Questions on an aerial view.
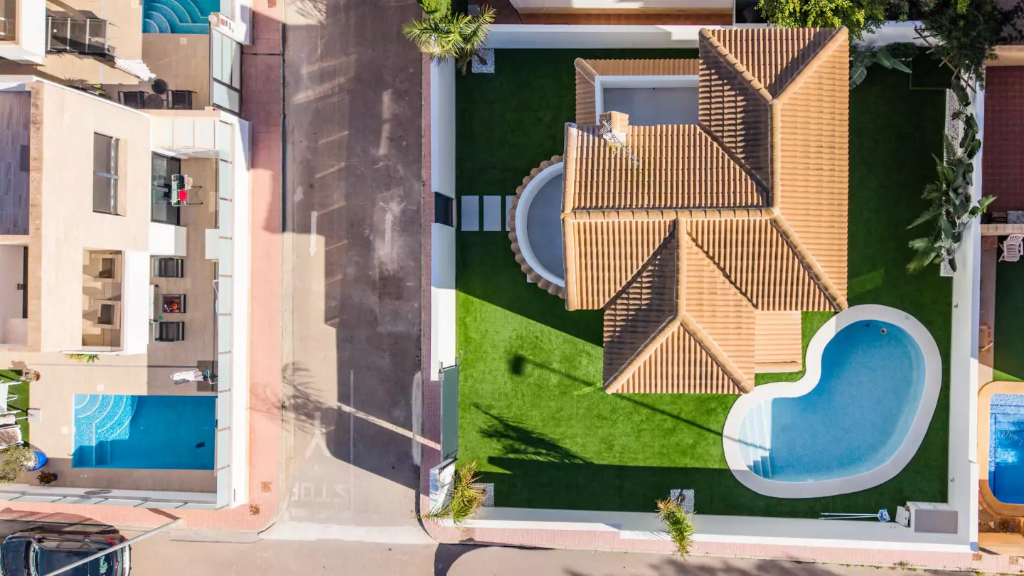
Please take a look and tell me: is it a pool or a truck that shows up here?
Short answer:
pool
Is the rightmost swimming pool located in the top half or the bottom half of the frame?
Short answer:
bottom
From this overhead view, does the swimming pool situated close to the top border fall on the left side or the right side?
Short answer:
left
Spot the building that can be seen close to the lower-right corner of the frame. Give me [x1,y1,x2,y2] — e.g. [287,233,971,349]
[908,500,959,532]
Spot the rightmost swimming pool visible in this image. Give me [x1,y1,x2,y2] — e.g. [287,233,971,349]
[979,382,1024,517]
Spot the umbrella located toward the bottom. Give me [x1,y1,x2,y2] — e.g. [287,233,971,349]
[169,361,217,391]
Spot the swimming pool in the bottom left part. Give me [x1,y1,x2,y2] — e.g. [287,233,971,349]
[71,395,216,470]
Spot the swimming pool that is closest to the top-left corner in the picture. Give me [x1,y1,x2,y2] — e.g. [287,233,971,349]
[141,0,221,34]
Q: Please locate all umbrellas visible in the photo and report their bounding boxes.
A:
[169,361,217,391]
[114,57,159,87]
